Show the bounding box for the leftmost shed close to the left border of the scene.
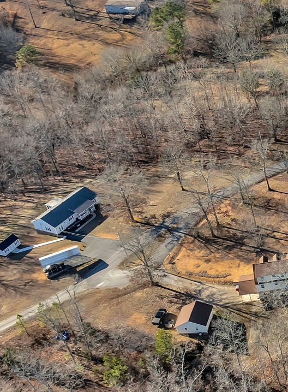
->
[0,233,24,256]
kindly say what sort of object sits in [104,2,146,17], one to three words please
house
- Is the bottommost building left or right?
right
